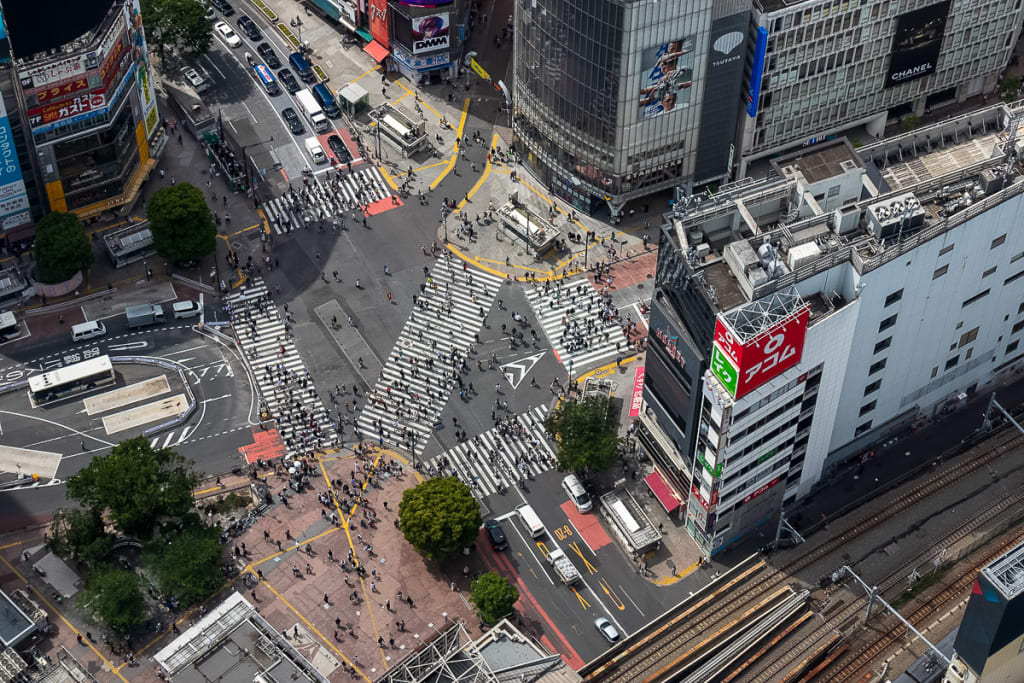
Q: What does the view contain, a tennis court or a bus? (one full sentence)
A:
This aerial view contains a bus.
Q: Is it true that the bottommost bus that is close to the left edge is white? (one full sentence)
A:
Yes, the bottommost bus that is close to the left edge appears white.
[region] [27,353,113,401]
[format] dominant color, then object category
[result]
white bus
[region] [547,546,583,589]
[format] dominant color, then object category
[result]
white truck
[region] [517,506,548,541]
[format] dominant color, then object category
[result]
white van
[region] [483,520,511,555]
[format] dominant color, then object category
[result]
black car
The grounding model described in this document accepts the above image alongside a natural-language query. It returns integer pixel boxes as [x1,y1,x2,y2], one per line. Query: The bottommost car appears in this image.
[593,614,623,647]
